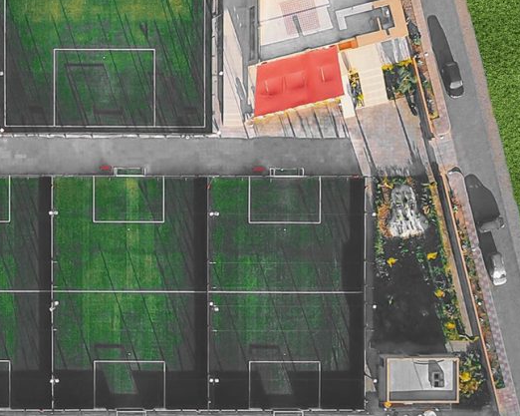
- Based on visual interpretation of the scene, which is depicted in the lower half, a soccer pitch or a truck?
soccer pitch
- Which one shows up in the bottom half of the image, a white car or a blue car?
white car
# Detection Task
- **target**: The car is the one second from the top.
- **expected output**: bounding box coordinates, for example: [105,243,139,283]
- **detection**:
[476,216,506,234]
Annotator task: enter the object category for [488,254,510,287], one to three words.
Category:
car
